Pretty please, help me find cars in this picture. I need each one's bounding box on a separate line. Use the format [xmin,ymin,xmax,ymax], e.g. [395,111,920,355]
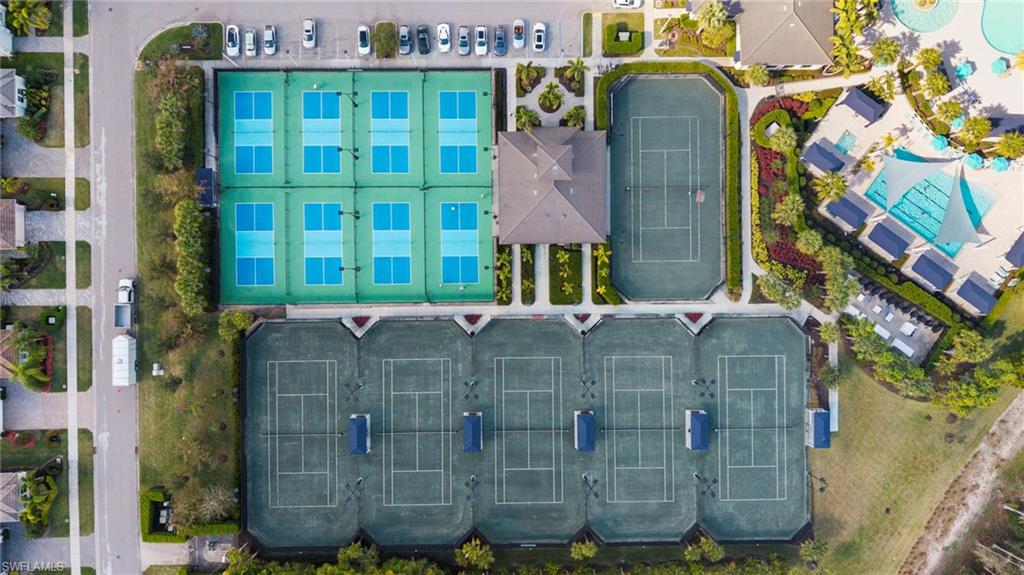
[244,28,258,58]
[512,20,525,50]
[417,25,431,56]
[474,26,488,57]
[457,26,471,57]
[302,19,317,50]
[398,25,411,56]
[493,25,508,58]
[357,26,371,57]
[226,27,240,57]
[532,23,546,53]
[263,26,277,57]
[437,23,451,54]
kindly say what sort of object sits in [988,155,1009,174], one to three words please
umbrella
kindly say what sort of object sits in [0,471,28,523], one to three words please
house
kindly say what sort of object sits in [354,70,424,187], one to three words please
sports court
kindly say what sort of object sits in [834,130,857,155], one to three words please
swimming pool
